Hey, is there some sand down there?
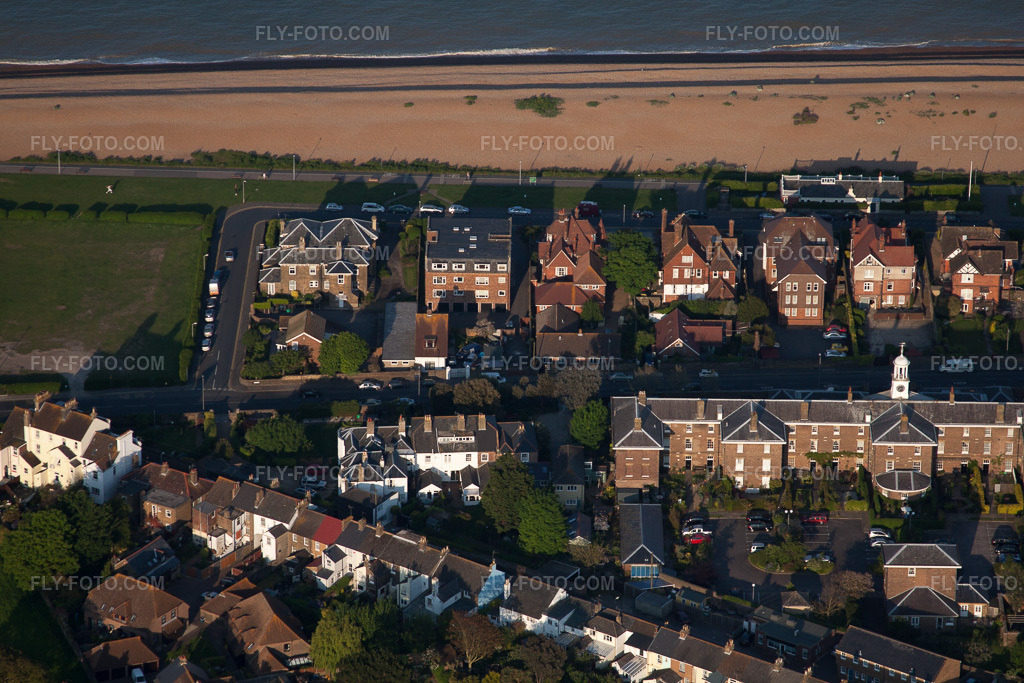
Yes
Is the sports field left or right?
left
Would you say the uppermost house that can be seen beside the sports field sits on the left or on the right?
left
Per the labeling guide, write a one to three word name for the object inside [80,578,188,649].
house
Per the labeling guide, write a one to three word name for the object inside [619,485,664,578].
building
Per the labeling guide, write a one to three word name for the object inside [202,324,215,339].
vehicle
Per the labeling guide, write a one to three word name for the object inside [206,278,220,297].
vehicle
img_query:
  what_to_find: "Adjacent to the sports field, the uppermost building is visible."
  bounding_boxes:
[258,214,377,306]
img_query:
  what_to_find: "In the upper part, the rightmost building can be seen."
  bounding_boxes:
[935,225,1019,317]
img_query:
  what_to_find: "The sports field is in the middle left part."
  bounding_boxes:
[0,225,201,381]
